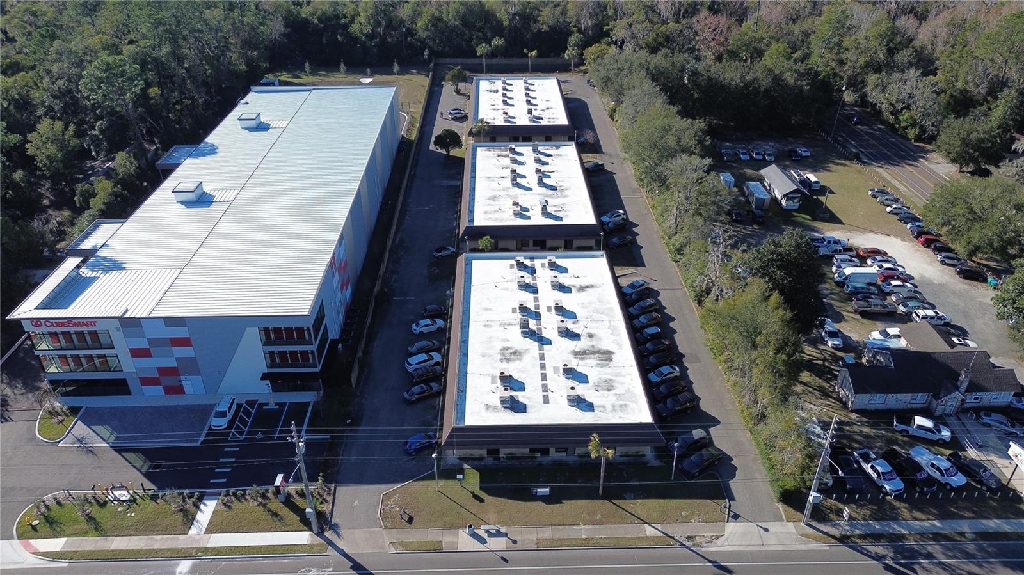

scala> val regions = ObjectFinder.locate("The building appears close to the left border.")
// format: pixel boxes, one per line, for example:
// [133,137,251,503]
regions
[3,83,404,394]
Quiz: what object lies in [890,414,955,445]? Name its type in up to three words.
truck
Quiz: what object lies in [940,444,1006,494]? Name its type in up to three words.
truck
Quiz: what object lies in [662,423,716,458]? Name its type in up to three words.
car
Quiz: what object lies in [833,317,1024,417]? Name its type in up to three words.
house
